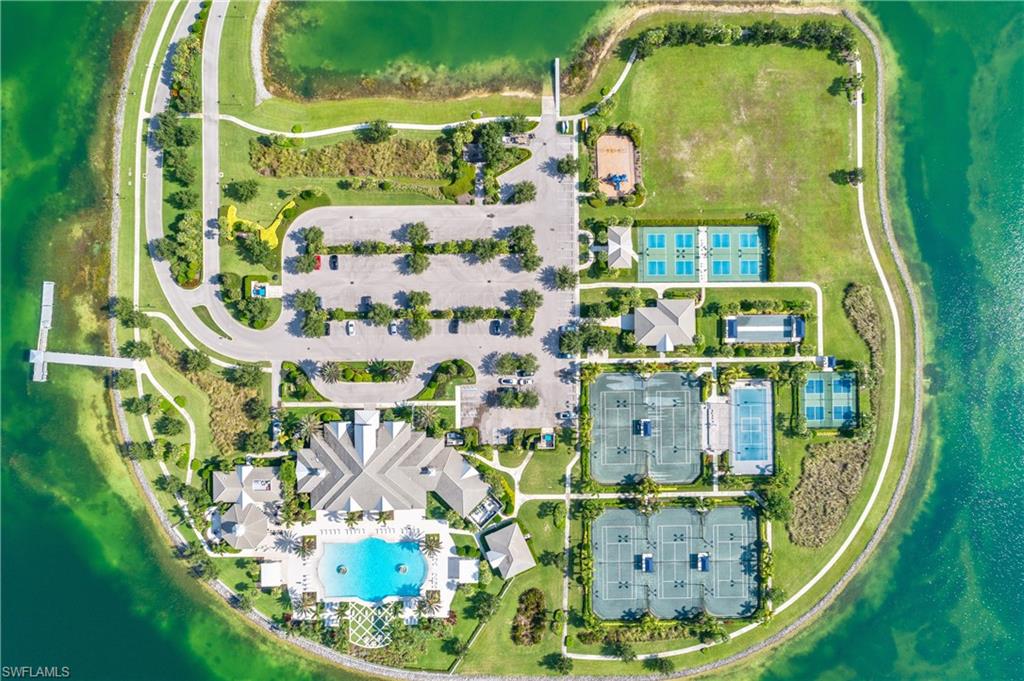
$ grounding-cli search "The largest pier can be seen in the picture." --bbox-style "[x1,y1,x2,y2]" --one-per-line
[30,282,134,382]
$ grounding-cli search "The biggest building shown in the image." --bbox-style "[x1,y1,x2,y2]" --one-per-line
[296,409,490,518]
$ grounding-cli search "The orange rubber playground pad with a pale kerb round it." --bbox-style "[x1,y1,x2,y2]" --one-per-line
[597,135,636,196]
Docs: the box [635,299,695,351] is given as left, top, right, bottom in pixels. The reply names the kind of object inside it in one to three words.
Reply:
building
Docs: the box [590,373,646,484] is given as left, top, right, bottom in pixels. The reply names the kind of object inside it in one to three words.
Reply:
tennis court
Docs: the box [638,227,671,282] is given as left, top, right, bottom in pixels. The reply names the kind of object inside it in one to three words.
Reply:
sports court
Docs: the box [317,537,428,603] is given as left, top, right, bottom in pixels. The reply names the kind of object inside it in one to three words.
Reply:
swimming pool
